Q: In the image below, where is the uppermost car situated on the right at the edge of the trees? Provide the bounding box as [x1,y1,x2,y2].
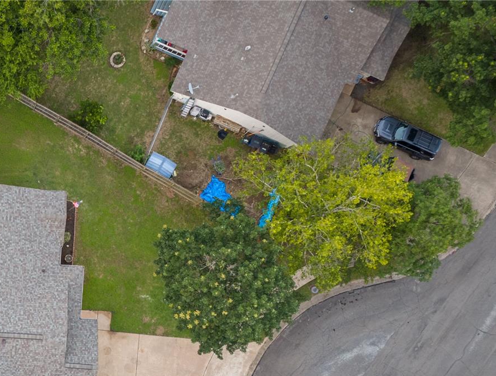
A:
[373,115,444,160]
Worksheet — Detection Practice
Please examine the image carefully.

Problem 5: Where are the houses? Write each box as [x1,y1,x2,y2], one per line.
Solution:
[151,0,410,158]
[0,186,98,376]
